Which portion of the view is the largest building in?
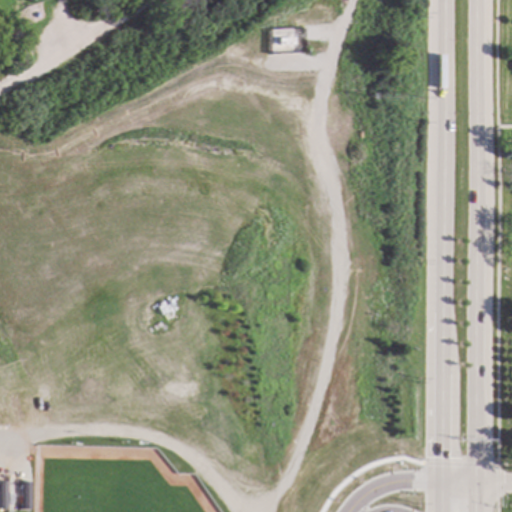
top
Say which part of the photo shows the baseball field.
bottom left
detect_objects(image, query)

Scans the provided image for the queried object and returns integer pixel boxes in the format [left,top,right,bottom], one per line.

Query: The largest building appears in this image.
[270,27,304,52]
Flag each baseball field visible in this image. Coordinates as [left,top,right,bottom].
[36,445,223,512]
